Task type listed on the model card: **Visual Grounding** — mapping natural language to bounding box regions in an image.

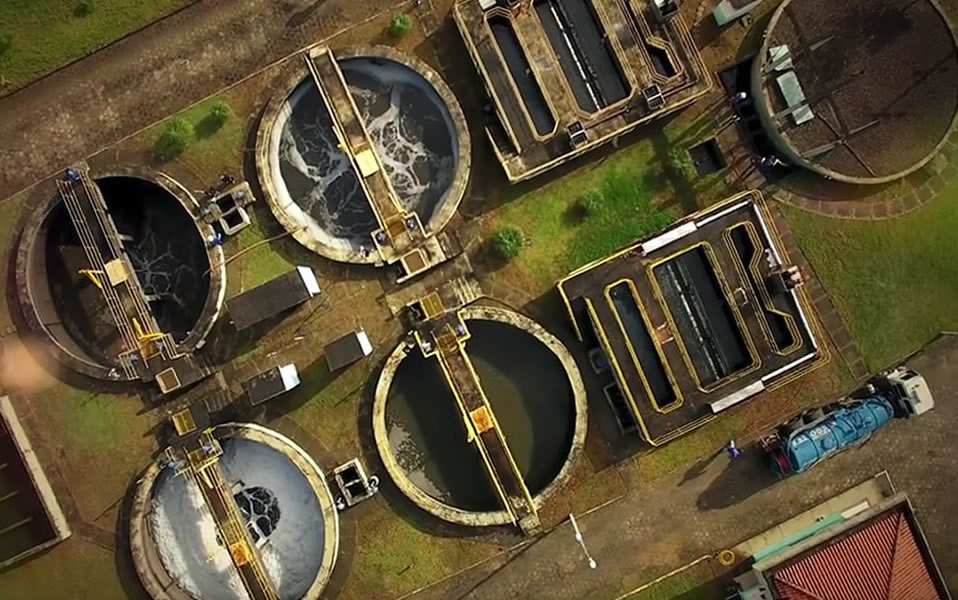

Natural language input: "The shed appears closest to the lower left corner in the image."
[247,364,298,406]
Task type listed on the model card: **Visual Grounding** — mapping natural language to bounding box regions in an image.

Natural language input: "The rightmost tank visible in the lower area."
[372,276,588,532]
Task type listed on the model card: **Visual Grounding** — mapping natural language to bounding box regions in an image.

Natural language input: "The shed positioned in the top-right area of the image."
[704,0,777,38]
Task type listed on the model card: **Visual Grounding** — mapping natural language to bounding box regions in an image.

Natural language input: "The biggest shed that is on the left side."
[226,269,320,329]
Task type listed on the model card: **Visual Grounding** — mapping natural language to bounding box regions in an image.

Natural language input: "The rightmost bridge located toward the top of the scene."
[302,40,408,228]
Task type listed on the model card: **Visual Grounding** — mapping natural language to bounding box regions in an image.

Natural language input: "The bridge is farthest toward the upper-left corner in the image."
[50,158,164,346]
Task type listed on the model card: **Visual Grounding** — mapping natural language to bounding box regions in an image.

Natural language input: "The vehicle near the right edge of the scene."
[736,363,938,479]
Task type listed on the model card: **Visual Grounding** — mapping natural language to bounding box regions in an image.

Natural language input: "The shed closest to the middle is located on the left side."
[324,330,370,372]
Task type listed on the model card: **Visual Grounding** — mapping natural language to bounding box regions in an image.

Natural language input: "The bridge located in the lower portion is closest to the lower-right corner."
[433,344,541,532]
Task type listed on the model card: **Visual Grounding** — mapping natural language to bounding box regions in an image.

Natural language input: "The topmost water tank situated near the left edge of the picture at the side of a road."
[12,158,233,404]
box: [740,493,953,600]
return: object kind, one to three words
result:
house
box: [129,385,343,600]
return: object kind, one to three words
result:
water tank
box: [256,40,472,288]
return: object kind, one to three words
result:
water tank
